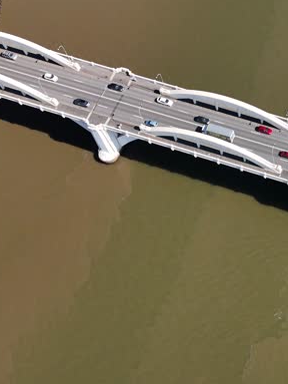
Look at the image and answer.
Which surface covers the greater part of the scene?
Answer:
water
